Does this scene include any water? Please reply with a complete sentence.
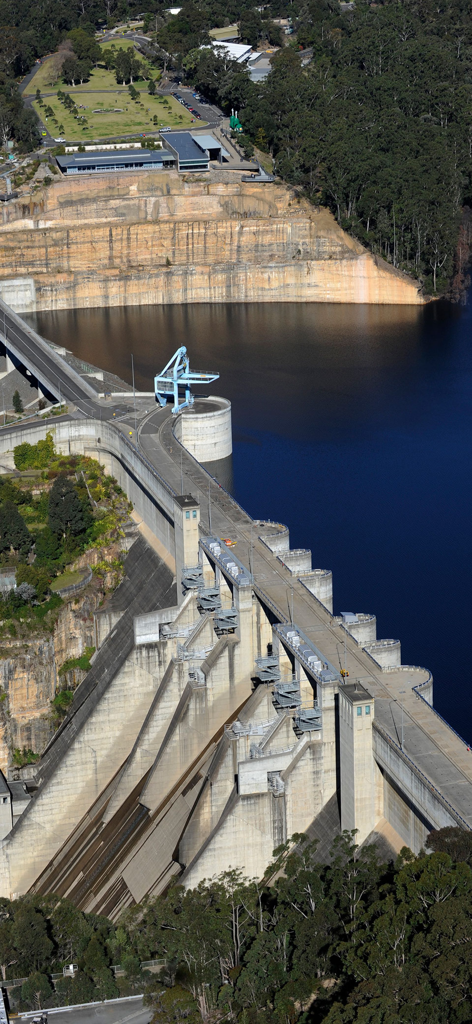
Yes, water can be seen from above here.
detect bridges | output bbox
[0,300,98,411]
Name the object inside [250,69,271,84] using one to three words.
shed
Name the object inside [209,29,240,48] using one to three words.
shed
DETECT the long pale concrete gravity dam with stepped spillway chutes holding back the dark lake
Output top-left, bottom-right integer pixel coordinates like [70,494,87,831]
[0,370,472,1010]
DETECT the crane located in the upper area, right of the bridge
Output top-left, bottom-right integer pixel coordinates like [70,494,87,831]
[150,334,222,415]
